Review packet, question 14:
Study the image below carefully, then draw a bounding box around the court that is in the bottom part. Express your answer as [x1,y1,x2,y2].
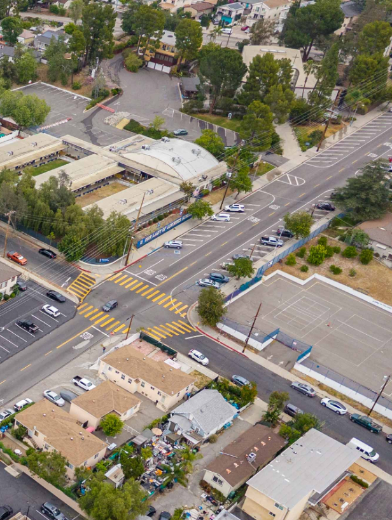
[227,274,392,402]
